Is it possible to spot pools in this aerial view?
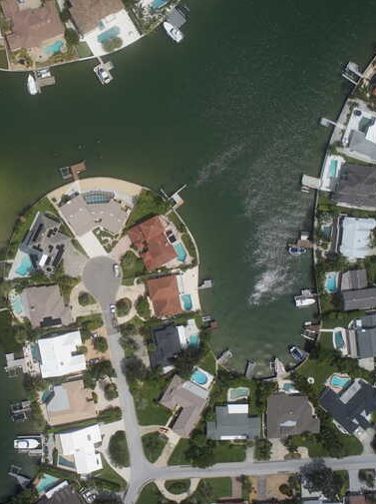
Yes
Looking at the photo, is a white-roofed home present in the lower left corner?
Yes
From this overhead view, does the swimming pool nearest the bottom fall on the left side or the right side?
left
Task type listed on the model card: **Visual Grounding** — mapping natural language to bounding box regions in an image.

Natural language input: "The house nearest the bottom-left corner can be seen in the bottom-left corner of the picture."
[44,480,80,504]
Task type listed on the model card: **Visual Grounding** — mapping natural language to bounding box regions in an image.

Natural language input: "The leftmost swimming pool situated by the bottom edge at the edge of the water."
[36,474,60,495]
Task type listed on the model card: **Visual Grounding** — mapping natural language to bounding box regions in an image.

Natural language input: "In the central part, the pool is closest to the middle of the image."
[173,243,188,263]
